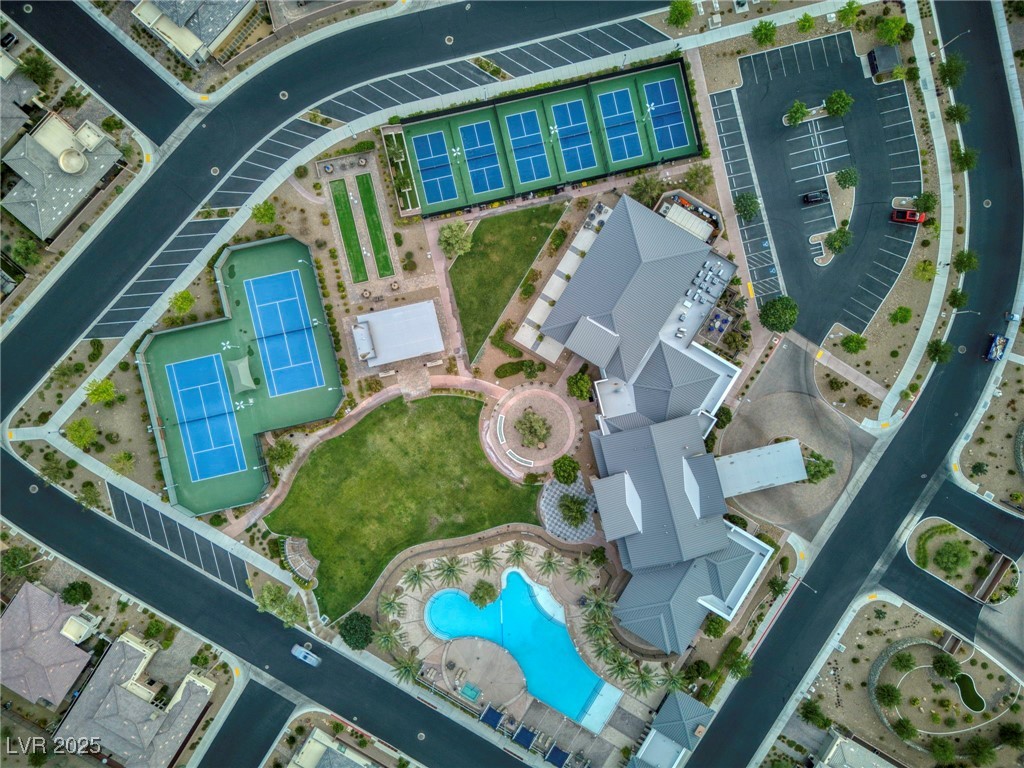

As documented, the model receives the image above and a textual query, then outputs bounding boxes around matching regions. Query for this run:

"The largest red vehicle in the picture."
[891,210,924,223]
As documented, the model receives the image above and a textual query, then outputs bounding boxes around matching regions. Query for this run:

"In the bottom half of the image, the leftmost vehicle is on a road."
[292,645,320,667]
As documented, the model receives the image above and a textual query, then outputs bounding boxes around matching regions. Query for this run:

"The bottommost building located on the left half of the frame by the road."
[295,720,376,768]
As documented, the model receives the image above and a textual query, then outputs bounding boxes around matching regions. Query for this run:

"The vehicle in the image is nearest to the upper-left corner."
[0,28,20,52]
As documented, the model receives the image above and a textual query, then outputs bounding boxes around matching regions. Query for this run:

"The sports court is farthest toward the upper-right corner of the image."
[635,64,697,157]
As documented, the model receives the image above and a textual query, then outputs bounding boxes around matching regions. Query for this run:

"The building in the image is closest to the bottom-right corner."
[810,722,891,768]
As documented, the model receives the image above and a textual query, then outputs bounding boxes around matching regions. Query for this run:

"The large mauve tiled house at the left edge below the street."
[0,581,112,713]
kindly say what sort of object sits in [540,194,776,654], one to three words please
building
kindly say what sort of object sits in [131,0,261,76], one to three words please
house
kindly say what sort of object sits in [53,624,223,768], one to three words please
house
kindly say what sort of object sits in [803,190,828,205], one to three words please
car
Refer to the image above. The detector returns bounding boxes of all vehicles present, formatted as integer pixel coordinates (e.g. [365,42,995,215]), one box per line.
[292,645,320,667]
[803,190,828,205]
[891,210,924,223]
[1001,314,1020,321]
[0,28,20,52]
